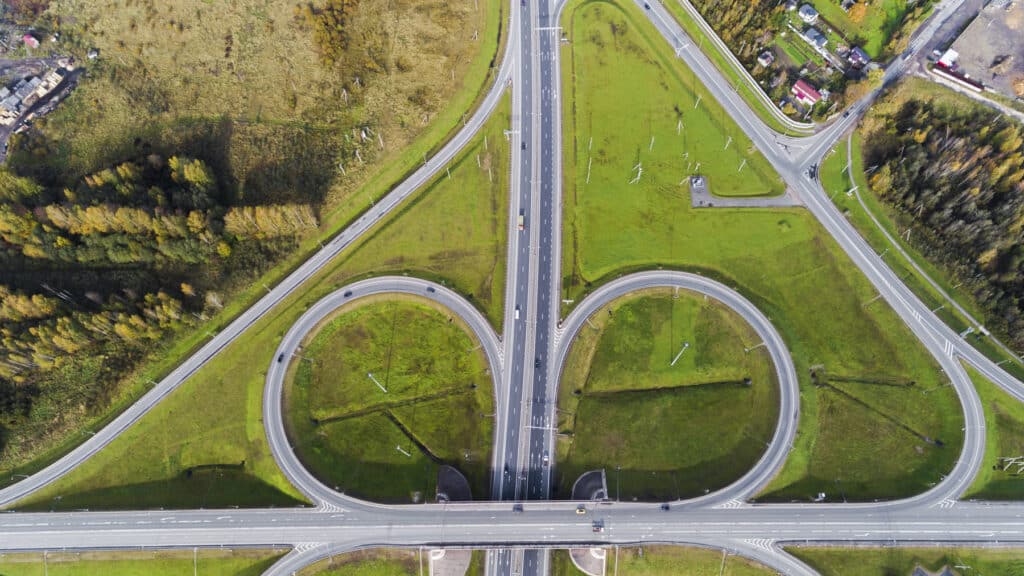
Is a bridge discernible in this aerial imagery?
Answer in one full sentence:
Yes, I can see a bridge in this picture.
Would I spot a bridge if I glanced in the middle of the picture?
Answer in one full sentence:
No, I see no bridge in the middle of the picture.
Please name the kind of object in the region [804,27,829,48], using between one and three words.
house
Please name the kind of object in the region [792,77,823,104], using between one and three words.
house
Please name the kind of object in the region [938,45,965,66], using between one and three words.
building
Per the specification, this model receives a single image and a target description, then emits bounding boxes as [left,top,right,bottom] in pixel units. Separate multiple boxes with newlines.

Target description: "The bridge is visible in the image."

[430,500,613,550]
